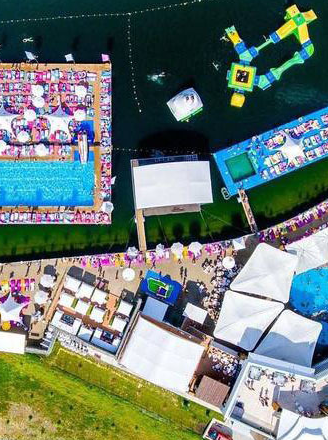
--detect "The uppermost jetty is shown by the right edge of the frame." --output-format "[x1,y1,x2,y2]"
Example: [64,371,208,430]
[212,107,328,198]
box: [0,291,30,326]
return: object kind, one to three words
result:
tent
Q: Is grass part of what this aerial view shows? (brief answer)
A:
Yes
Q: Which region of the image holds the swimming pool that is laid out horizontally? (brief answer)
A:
left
